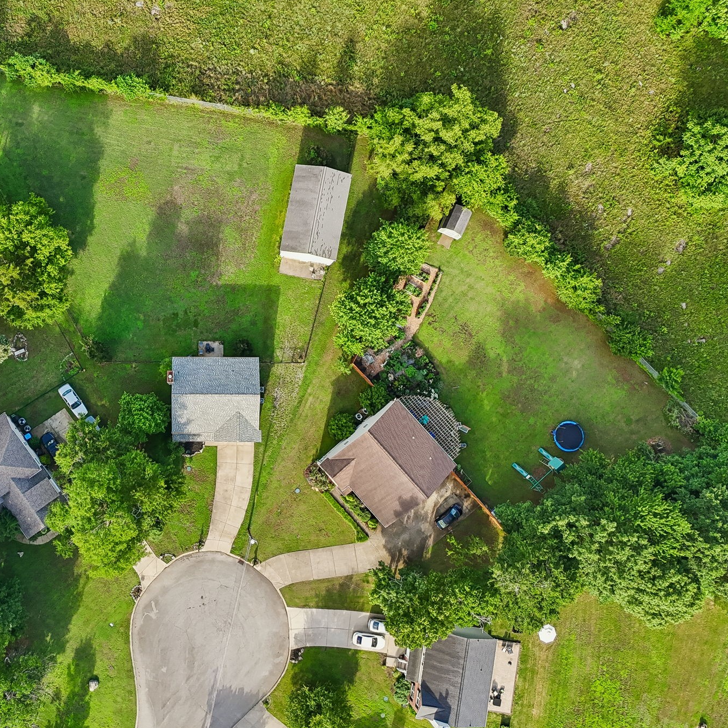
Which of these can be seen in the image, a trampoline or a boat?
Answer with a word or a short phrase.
trampoline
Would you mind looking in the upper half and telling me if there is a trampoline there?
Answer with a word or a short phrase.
No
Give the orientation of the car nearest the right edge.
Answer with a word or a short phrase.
on a diagonal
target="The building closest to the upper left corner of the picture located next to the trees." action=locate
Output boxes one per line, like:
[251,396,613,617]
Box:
[280,164,352,262]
